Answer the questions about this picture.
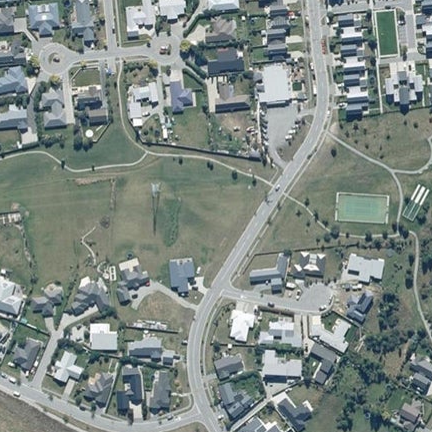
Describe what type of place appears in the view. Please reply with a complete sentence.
It's a residential area.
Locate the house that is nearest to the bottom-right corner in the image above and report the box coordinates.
[400,400,424,431]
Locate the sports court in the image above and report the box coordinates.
[336,193,390,223]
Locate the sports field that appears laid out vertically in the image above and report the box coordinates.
[377,9,399,58]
